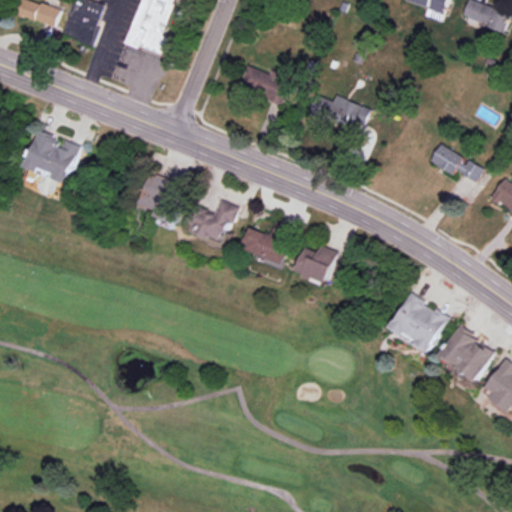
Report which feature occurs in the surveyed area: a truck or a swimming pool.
swimming pool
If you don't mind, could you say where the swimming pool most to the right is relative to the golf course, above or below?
above it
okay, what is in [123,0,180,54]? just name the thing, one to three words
building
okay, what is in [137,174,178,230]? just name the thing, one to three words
house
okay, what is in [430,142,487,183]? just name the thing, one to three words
house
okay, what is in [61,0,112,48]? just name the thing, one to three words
building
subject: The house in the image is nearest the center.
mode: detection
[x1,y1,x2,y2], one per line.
[242,227,292,270]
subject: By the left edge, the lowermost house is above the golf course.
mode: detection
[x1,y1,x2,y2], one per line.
[23,132,84,201]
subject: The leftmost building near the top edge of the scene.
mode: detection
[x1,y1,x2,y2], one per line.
[14,0,64,28]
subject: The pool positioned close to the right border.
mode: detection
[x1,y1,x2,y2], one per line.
[474,102,505,130]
